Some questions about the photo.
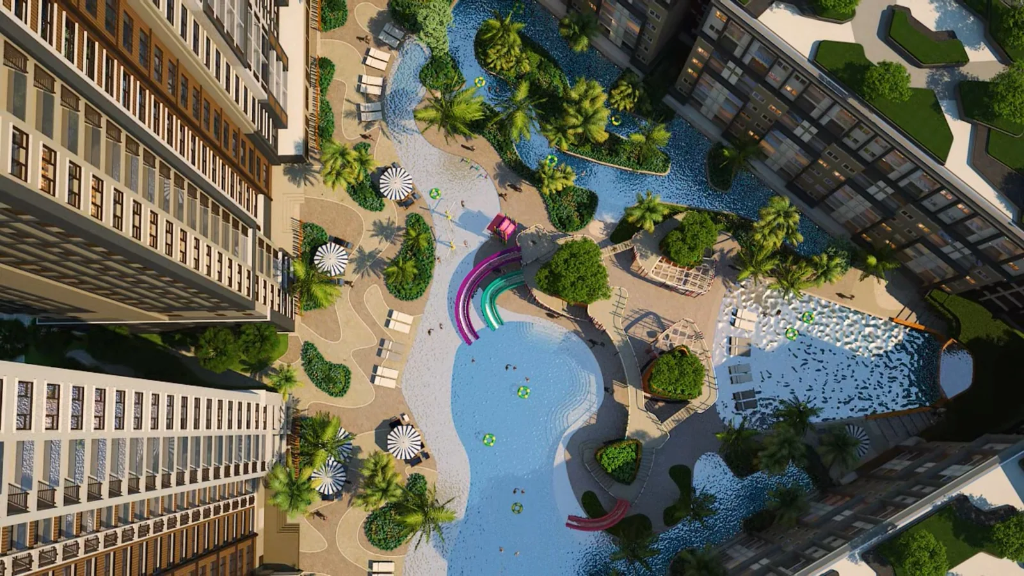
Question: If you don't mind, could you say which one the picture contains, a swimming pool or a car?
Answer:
swimming pool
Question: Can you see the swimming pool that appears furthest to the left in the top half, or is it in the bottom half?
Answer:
bottom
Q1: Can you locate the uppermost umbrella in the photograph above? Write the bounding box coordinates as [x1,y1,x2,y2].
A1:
[379,168,414,202]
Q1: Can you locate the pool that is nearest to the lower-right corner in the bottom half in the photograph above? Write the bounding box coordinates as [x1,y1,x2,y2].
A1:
[942,341,975,399]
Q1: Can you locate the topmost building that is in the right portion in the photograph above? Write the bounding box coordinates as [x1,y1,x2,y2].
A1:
[566,0,701,65]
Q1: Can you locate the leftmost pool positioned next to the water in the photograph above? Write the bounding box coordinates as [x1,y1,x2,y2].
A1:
[447,321,621,576]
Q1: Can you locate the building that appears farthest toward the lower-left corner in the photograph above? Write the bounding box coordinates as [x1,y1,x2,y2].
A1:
[0,361,292,576]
